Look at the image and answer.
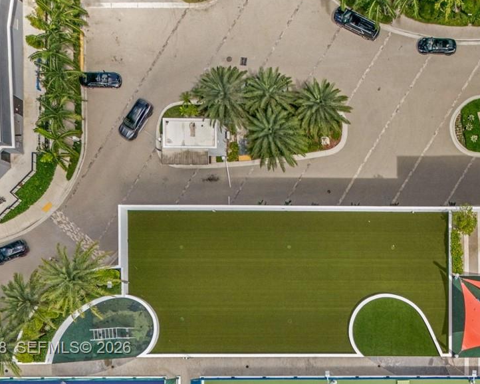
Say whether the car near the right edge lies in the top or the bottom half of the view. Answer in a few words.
top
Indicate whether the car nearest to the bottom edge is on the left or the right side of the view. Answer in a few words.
left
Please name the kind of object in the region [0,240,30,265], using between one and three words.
car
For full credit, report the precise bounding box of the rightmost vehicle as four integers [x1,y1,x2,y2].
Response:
[417,34,457,57]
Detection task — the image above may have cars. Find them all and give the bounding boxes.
[334,6,380,40]
[79,68,122,90]
[121,95,153,140]
[417,34,457,57]
[0,240,30,265]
